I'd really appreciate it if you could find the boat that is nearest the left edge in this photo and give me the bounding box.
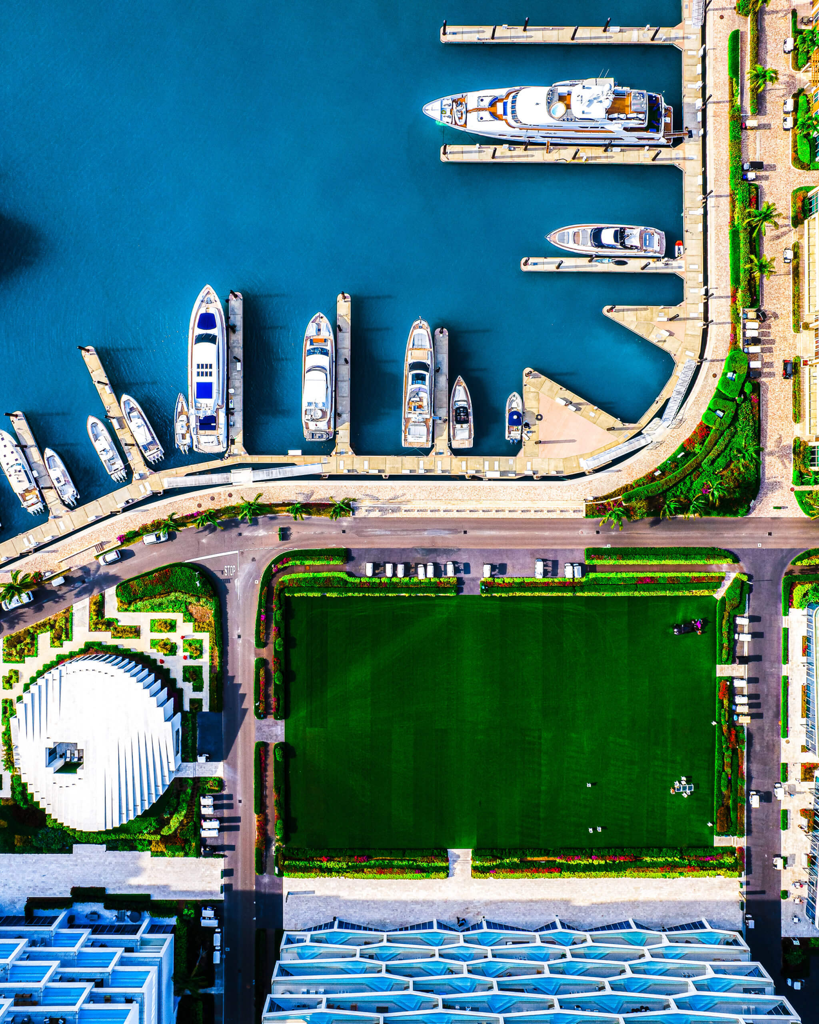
[0,427,46,519]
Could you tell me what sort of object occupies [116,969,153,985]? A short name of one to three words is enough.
swimming pool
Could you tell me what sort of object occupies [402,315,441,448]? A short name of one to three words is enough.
boat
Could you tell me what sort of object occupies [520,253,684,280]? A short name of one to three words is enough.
pier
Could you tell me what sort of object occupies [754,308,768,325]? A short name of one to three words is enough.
car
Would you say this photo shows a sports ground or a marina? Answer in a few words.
marina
